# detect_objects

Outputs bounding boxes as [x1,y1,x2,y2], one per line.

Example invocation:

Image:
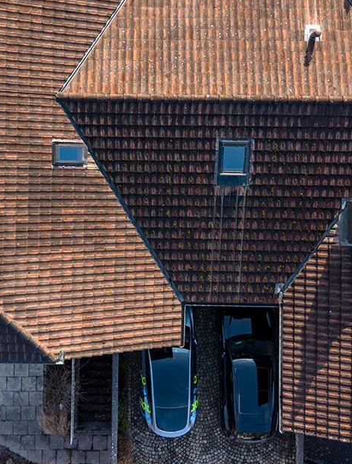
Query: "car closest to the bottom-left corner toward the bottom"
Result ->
[143,313,206,436]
